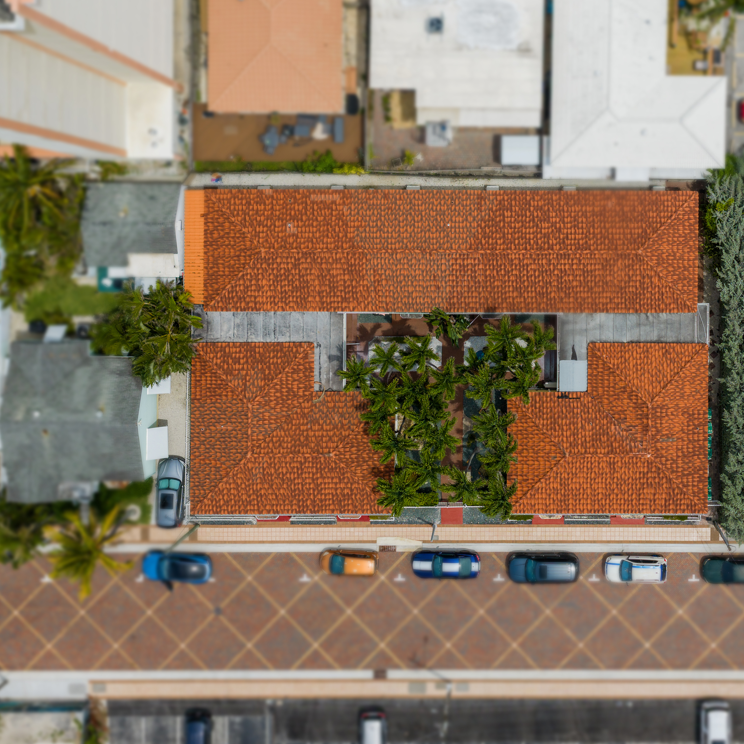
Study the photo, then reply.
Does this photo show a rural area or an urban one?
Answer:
urban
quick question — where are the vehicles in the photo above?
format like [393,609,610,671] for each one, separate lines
[184,704,216,744]
[602,549,668,587]
[154,454,188,527]
[321,544,379,578]
[144,546,215,585]
[412,545,481,581]
[699,551,744,587]
[698,695,731,744]
[507,546,578,586]
[359,702,387,744]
